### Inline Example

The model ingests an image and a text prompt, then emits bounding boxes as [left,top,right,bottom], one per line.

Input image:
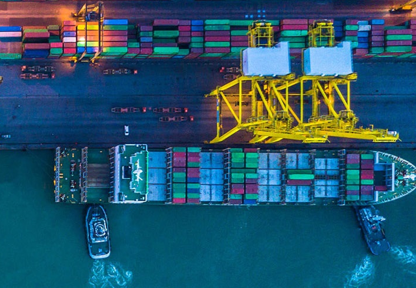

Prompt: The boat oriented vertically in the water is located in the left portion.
[85,206,110,259]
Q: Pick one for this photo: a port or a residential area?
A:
port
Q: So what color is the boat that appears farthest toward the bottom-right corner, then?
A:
blue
